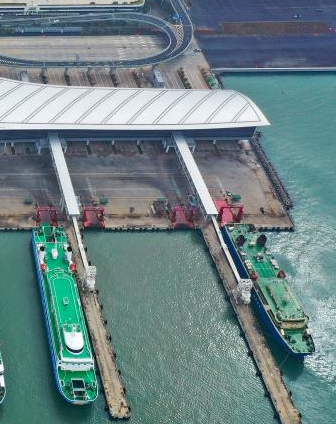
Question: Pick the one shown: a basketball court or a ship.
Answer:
ship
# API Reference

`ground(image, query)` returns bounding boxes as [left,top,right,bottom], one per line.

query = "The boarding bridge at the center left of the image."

[49,139,98,296]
